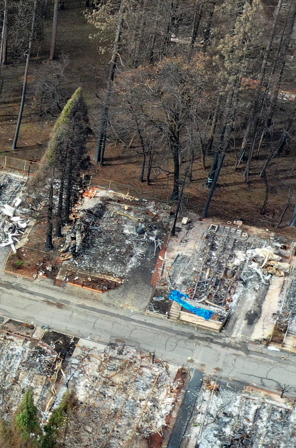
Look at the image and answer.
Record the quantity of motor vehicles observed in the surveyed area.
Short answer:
0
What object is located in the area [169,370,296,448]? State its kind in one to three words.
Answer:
house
